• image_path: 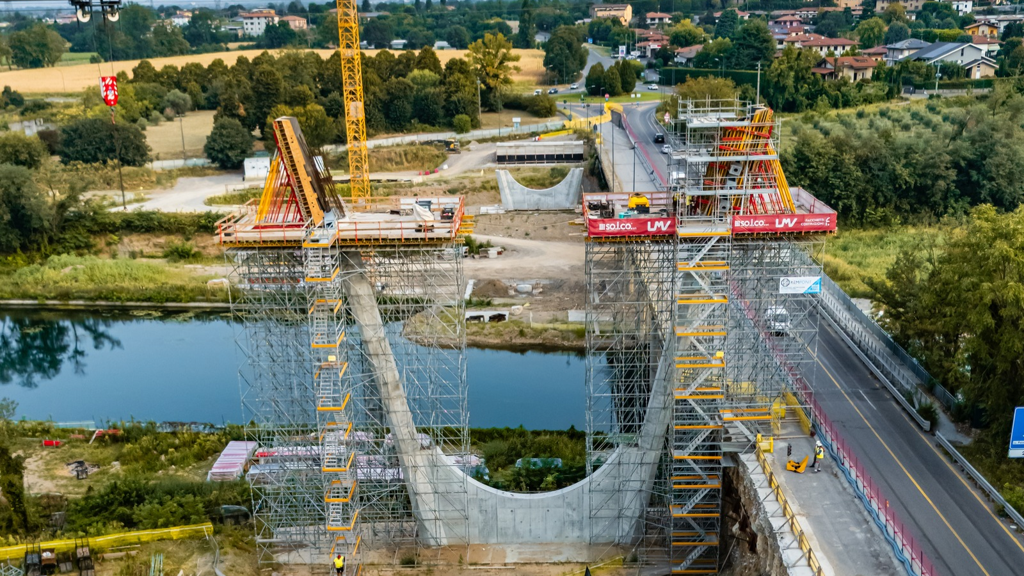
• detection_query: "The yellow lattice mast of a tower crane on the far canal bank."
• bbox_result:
[339,0,394,304]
